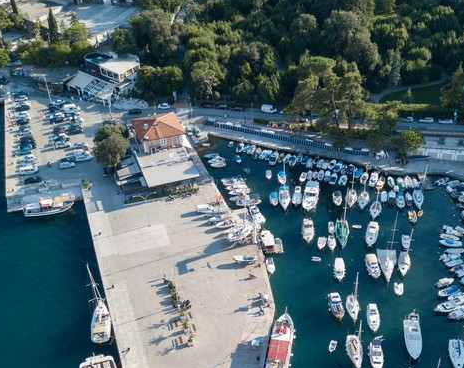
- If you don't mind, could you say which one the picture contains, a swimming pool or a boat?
boat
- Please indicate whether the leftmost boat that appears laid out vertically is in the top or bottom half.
bottom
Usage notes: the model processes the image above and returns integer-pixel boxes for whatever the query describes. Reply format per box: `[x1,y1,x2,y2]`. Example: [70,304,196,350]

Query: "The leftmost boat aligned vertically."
[88,280,110,346]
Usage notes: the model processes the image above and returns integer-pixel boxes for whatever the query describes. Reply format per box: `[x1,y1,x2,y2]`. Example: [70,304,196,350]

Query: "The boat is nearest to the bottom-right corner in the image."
[445,325,464,368]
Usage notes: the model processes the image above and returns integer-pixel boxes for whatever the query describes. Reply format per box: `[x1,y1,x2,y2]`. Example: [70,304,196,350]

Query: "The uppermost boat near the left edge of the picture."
[23,189,73,219]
